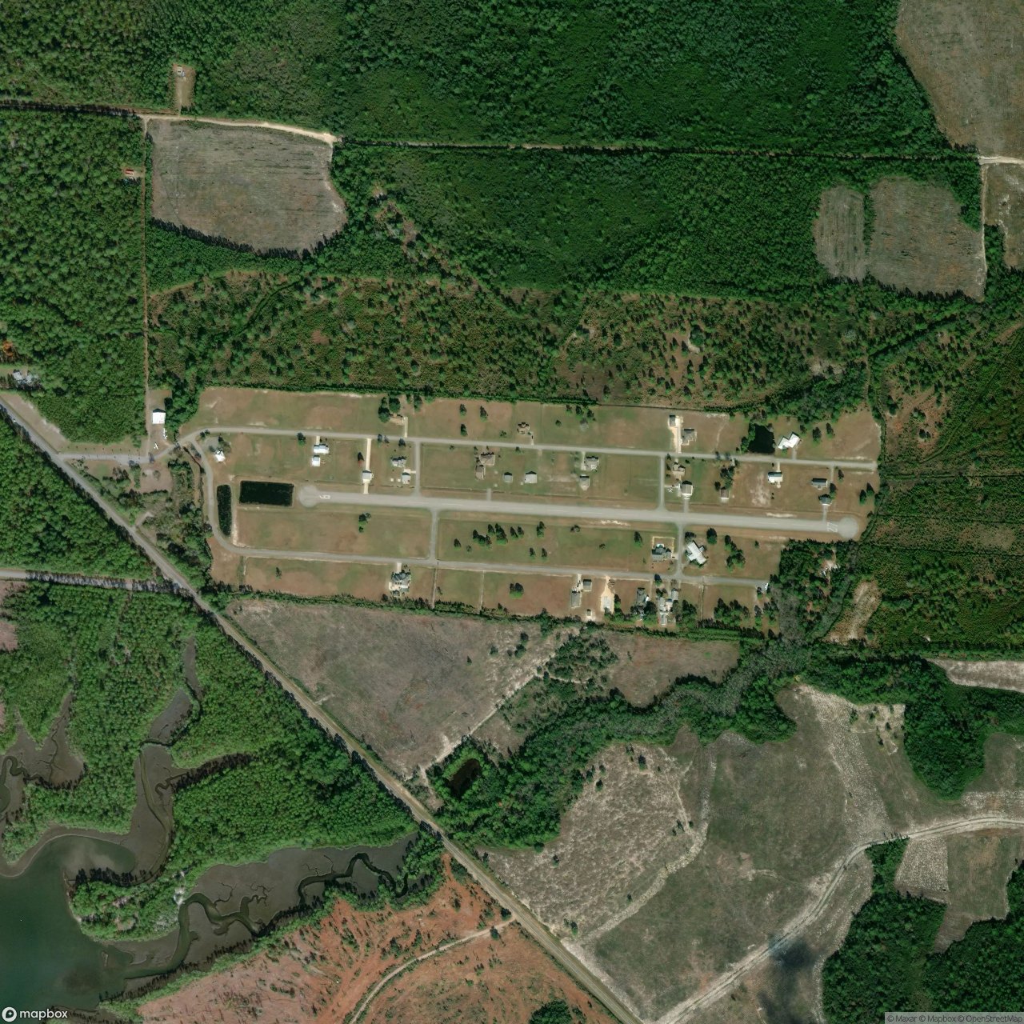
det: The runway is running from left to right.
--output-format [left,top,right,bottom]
[300,486,860,537]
